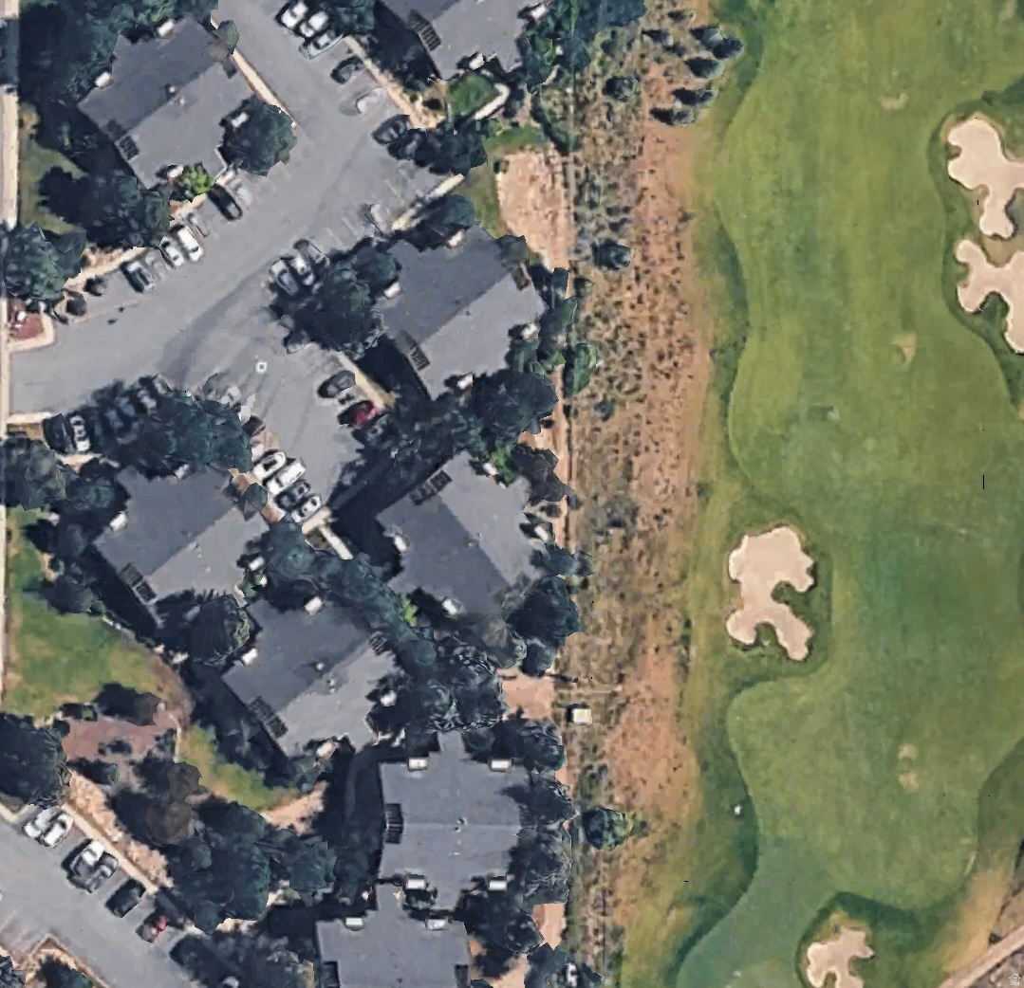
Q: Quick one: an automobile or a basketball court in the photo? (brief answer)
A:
automobile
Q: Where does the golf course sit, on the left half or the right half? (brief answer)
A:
right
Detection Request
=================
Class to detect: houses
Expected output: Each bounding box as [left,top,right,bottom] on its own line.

[378,0,557,88]
[365,214,557,404]
[379,729,535,913]
[316,887,472,988]
[223,584,417,771]
[90,451,285,637]
[74,7,269,192]
[376,440,565,635]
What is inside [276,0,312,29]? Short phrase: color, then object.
white car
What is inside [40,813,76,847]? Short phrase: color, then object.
white car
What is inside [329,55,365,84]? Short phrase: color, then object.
gray car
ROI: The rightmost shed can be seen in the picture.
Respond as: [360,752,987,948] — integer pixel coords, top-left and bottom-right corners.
[570,706,589,724]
